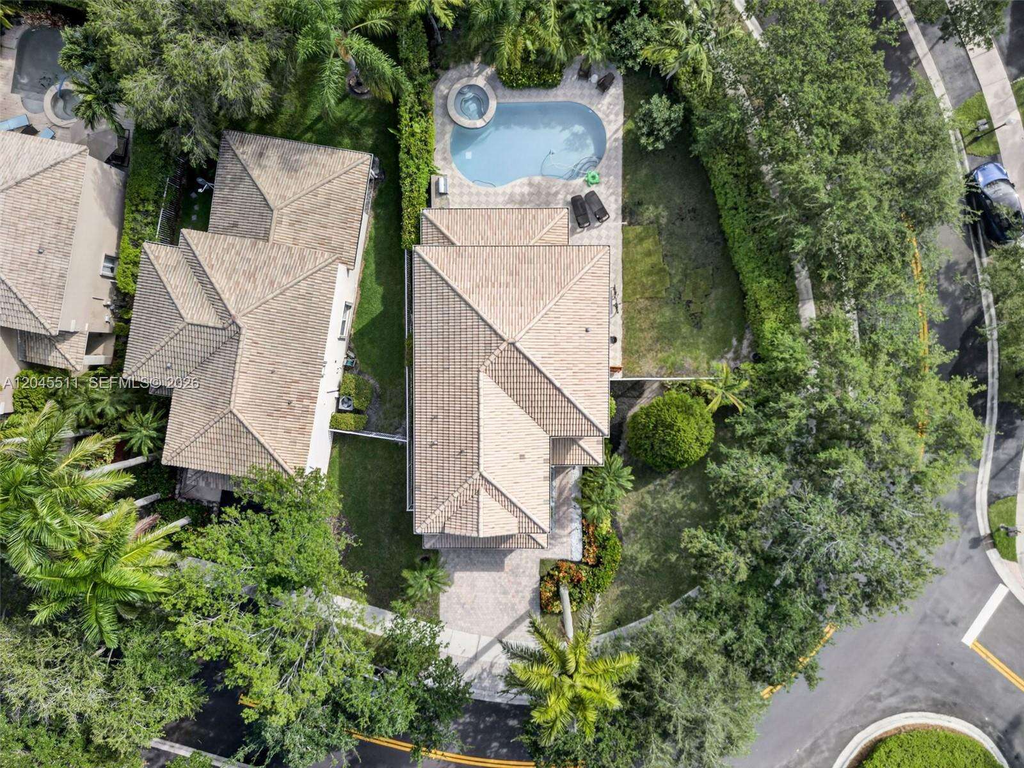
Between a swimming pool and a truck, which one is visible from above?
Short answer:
swimming pool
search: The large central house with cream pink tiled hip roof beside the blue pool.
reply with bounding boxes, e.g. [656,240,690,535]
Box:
[411,205,612,551]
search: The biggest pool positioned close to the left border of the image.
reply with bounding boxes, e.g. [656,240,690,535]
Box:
[6,24,78,117]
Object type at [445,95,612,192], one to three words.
swimming pool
